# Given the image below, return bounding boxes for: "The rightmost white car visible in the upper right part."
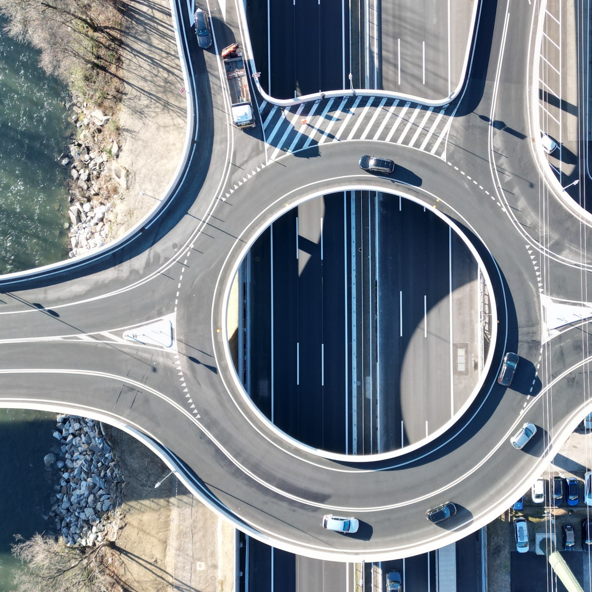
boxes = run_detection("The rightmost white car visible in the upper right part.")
[541,128,558,156]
